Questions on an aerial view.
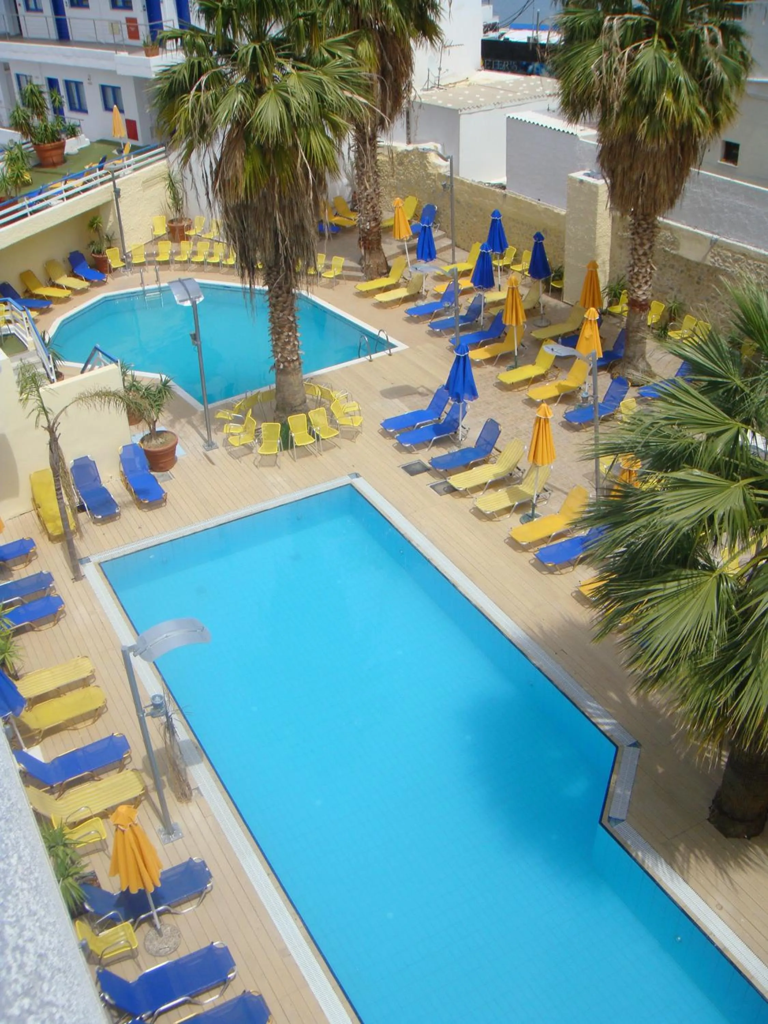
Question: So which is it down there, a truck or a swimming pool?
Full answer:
The image shows a swimming pool.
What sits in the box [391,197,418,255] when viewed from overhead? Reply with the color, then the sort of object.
orange umbrella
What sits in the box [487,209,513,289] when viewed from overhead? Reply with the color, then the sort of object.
blue umbrella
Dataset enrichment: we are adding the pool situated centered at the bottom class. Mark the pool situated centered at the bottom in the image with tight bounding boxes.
[102,487,768,1024]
